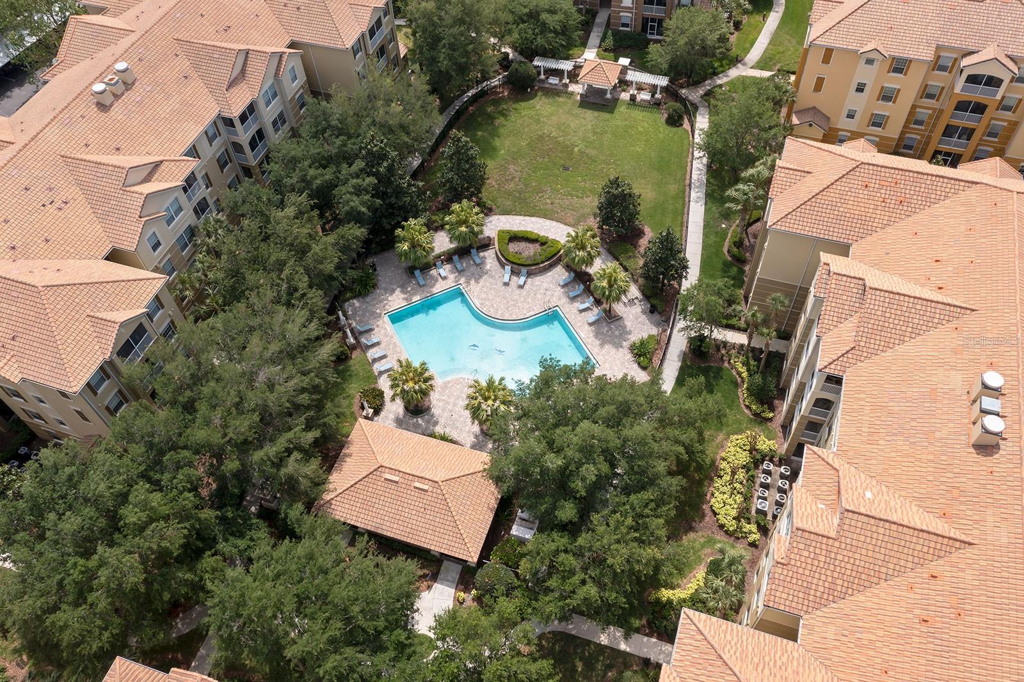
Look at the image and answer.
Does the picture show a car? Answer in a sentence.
No, the picture doesn't show any car.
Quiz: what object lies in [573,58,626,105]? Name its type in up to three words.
gazebo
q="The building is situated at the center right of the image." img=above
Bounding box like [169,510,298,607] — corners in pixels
[656,134,1024,682]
